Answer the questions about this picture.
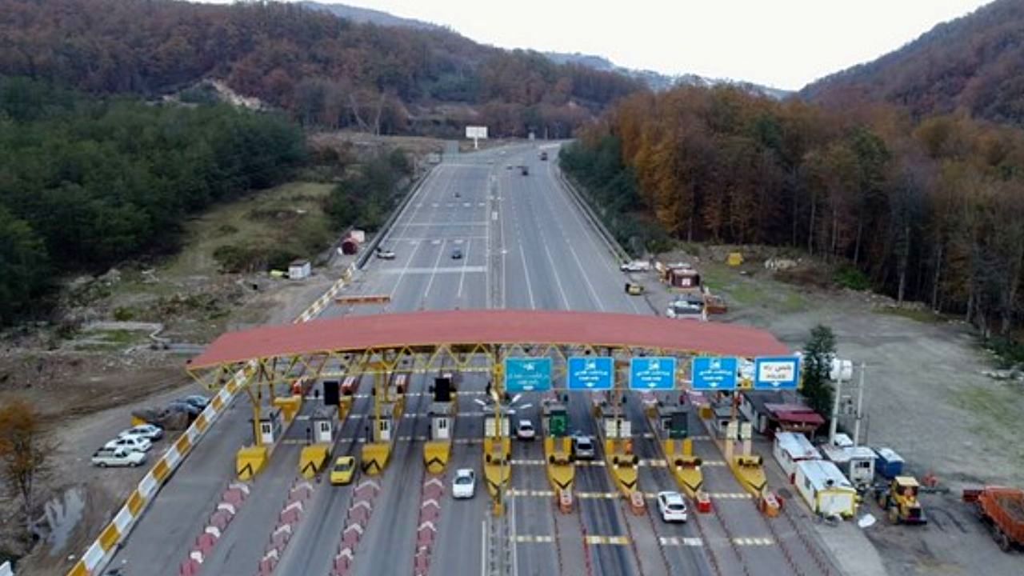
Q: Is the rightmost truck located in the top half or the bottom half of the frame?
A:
bottom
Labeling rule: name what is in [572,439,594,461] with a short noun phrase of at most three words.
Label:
car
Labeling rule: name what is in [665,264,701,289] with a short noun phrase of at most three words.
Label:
building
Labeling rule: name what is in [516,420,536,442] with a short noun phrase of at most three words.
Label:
car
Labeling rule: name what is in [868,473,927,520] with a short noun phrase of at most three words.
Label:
work vehicle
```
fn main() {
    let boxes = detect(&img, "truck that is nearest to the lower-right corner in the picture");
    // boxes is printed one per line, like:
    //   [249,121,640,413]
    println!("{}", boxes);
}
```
[960,487,1024,558]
